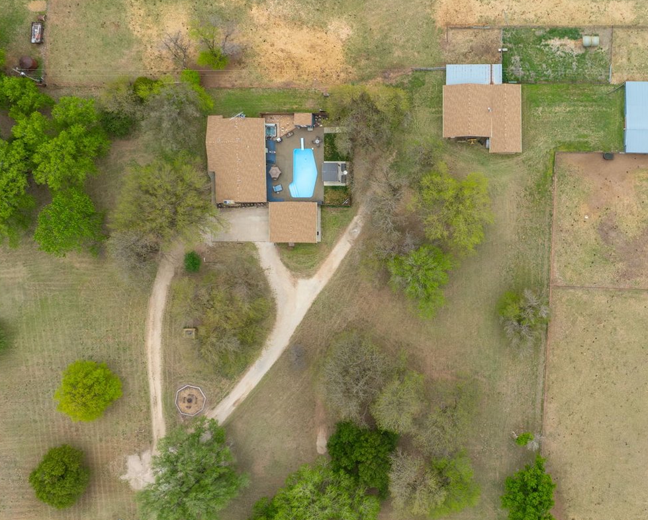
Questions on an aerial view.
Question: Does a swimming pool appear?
Yes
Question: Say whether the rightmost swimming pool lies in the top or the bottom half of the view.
top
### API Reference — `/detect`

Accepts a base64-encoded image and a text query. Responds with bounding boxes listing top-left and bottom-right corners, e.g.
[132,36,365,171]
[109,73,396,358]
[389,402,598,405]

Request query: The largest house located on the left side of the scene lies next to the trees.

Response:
[205,115,269,202]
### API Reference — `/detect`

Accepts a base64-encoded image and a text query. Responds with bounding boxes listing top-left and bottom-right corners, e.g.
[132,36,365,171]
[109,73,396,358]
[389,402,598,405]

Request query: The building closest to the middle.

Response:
[269,202,320,243]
